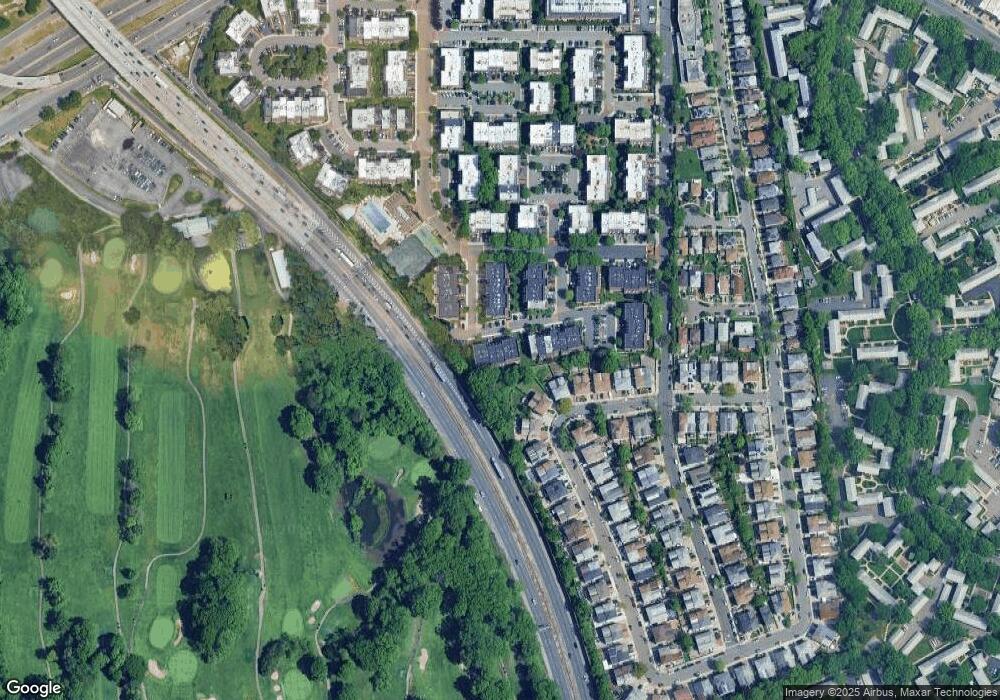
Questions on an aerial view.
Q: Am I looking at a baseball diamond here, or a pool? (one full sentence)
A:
There is a pool in the scene.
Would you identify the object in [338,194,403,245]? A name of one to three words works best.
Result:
swimming pool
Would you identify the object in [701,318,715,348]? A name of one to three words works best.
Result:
house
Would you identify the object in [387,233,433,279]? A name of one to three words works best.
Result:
tennis court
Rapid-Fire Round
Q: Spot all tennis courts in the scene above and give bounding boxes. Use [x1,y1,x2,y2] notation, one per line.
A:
[387,233,433,279]
[415,225,444,257]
